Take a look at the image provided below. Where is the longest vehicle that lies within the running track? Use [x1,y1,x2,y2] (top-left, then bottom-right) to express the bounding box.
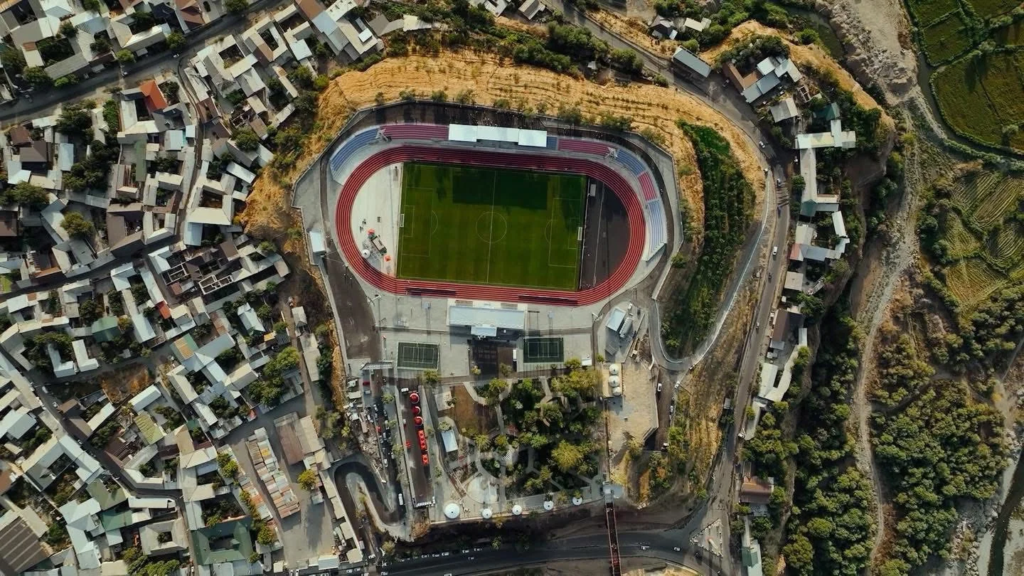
[369,234,387,252]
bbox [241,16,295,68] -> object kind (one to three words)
house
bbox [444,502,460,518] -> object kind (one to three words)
umbrella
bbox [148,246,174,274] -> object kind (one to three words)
house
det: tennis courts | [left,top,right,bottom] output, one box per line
[524,338,564,363]
[397,342,440,370]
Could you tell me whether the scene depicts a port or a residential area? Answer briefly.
residential area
